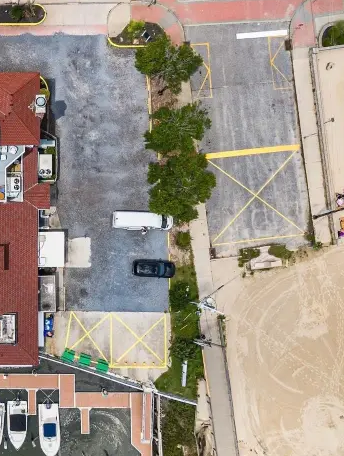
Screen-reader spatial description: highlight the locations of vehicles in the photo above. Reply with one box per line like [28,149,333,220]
[131,258,173,278]
[111,211,173,232]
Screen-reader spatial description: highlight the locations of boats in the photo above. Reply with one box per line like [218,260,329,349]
[7,392,28,451]
[38,393,60,456]
[0,401,5,446]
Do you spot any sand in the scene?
Yes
